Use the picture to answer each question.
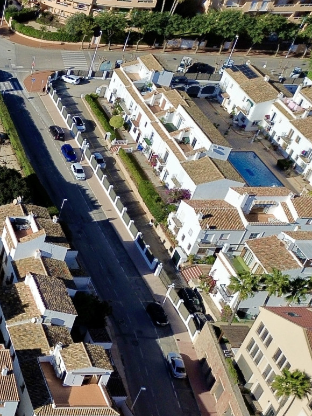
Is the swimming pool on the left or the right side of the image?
right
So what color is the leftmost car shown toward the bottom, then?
black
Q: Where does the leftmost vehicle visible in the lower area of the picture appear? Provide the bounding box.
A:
[146,298,172,323]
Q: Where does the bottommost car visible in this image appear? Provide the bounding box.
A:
[166,348,189,377]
